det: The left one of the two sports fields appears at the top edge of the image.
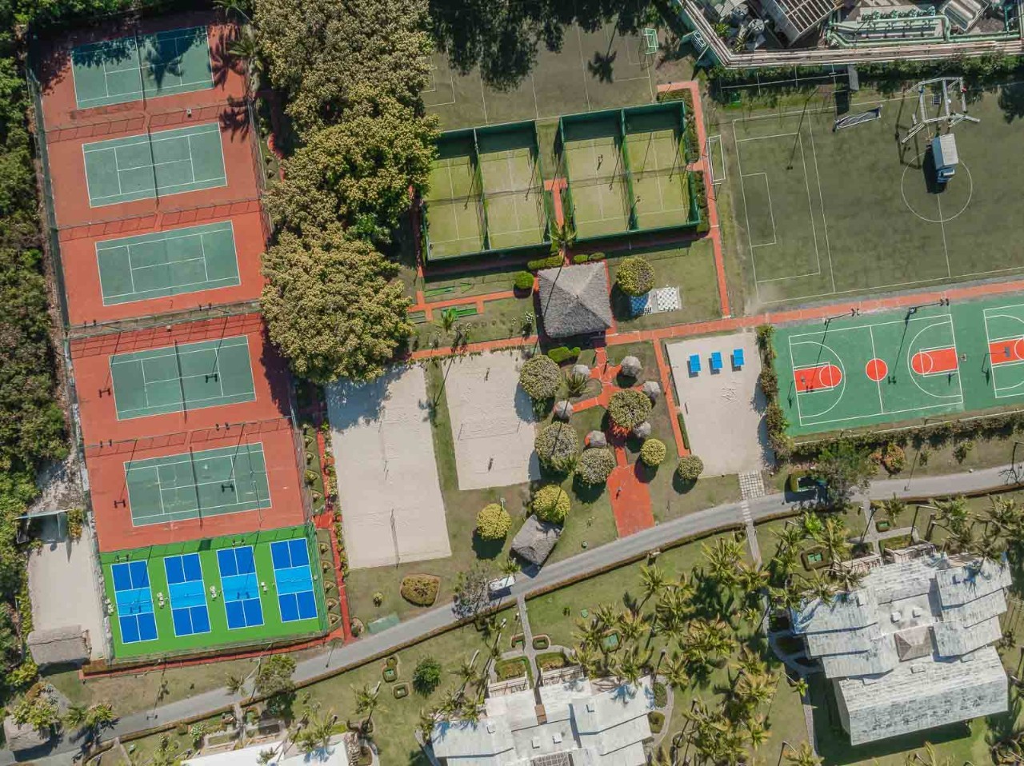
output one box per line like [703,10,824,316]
[404,0,694,137]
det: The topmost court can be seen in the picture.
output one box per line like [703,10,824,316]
[30,12,253,131]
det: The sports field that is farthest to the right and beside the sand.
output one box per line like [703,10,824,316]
[720,68,1024,314]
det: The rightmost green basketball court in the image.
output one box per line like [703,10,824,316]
[967,296,1024,410]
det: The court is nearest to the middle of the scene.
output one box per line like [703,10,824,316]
[443,350,541,490]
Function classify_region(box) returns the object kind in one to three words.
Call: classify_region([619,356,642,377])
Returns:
umbrella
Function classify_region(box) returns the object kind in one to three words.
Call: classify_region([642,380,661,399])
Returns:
umbrella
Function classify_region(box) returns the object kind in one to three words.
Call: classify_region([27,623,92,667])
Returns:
shed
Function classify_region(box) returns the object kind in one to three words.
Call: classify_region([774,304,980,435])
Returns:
basketball court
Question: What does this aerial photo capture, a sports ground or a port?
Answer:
sports ground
